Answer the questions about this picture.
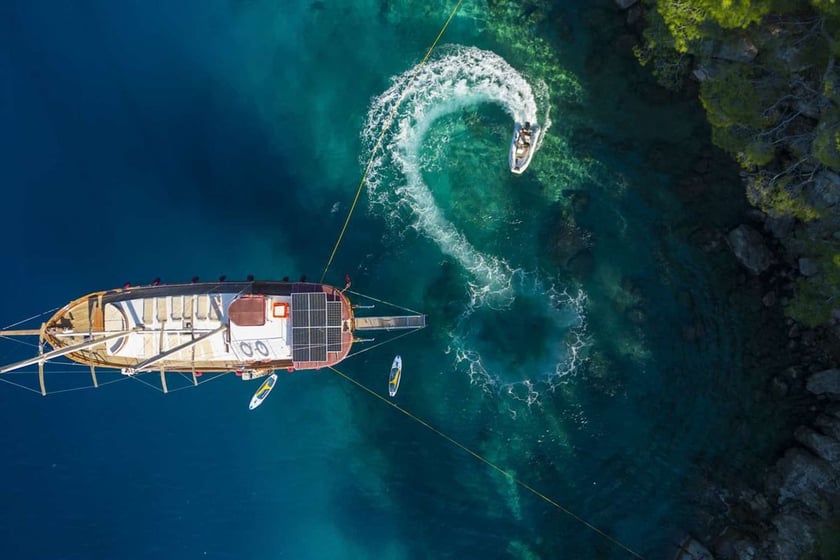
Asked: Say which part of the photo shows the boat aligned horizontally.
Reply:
left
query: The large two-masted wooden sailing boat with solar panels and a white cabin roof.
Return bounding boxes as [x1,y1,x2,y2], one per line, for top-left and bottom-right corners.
[0,275,427,396]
